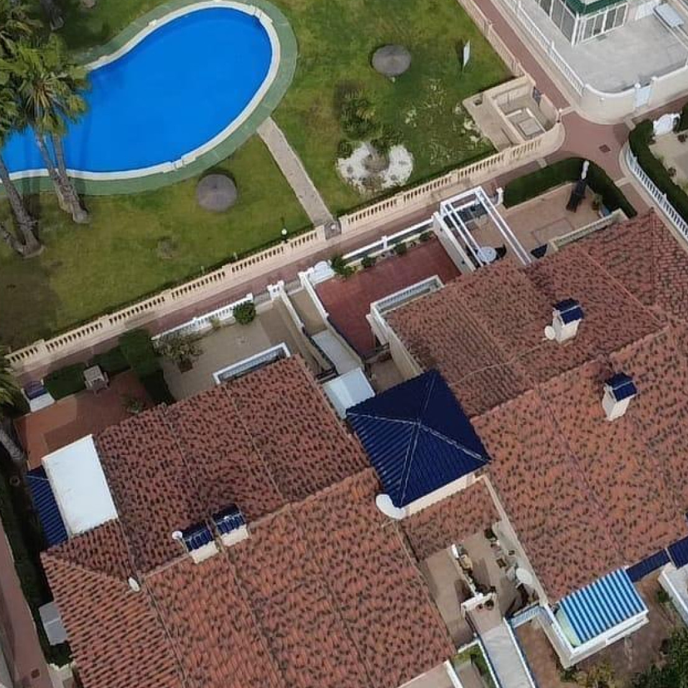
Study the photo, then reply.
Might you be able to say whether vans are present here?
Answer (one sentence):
No, the scene contains no van.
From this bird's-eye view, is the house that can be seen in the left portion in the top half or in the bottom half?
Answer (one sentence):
You can find the house that can be seen in the left portion in the bottom half.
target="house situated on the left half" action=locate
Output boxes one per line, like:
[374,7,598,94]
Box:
[20,339,465,688]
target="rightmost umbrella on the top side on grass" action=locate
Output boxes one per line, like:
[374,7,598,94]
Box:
[373,49,409,84]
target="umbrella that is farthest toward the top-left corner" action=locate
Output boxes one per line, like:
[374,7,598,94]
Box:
[197,177,237,213]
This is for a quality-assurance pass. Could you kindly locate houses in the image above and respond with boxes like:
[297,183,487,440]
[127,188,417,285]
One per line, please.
[535,0,675,44]
[366,202,688,667]
[20,339,465,688]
